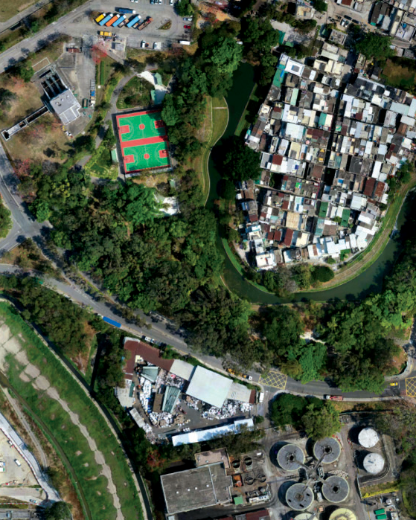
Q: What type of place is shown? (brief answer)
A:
residential area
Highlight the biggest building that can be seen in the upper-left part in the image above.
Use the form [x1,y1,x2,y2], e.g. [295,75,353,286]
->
[50,88,82,124]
